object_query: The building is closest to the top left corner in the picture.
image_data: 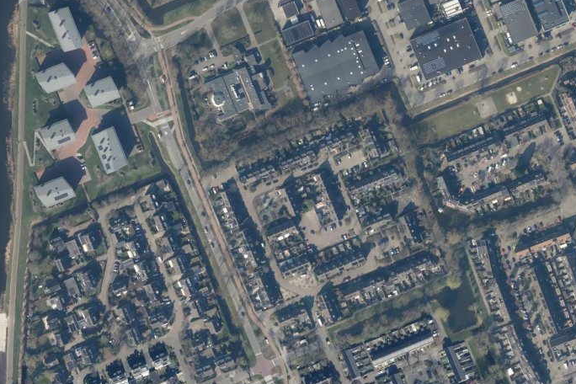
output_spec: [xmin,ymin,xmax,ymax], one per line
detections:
[47,5,82,55]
